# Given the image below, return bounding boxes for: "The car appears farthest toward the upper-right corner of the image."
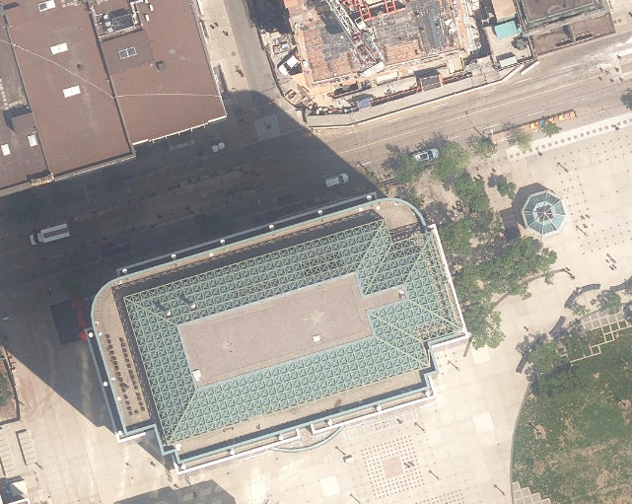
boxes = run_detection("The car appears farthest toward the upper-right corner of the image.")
[414,149,439,162]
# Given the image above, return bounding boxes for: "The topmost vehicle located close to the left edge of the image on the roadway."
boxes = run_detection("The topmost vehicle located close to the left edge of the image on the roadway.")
[30,222,69,244]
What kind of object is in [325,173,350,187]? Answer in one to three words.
vehicle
